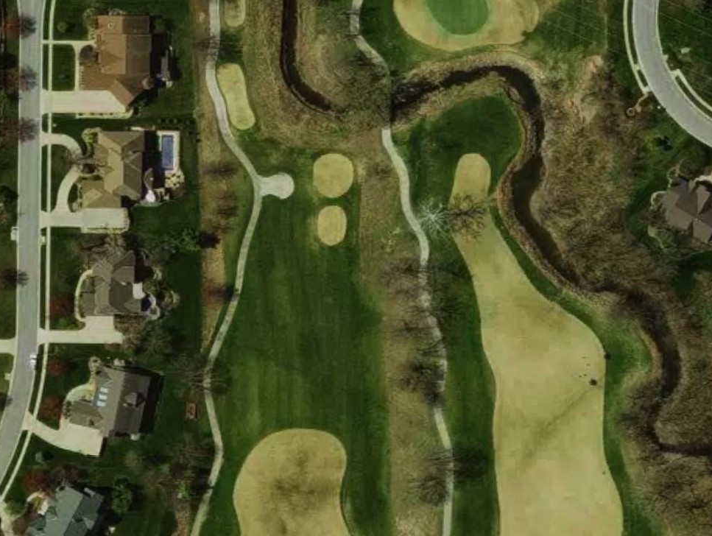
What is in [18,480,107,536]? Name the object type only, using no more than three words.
house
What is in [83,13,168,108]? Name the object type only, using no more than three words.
house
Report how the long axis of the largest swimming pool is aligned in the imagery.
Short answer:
from top to bottom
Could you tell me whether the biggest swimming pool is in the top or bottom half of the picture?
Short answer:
top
